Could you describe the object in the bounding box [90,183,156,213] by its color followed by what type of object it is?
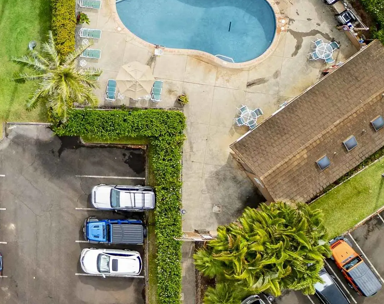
white car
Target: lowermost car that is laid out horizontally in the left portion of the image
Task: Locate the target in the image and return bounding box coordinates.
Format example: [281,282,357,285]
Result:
[80,247,142,277]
